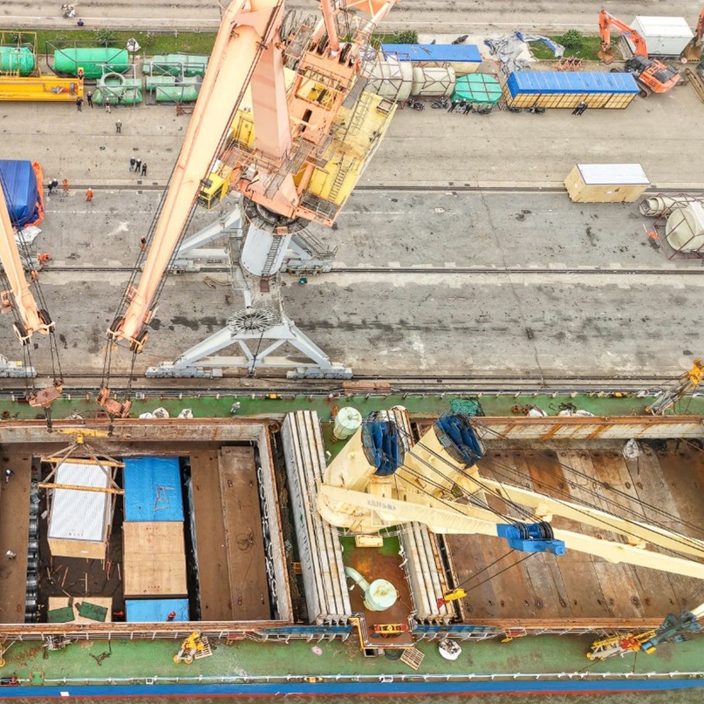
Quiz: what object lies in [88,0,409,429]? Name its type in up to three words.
container crane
